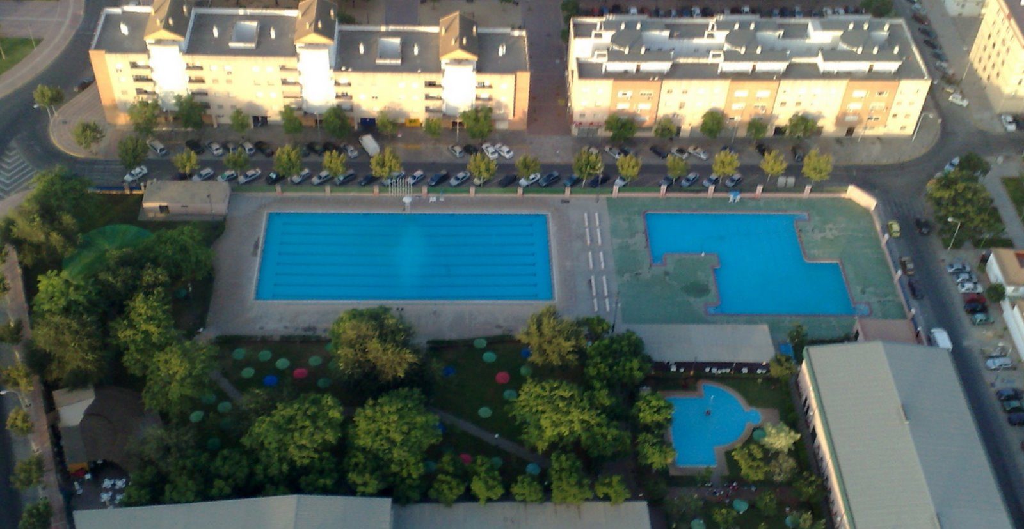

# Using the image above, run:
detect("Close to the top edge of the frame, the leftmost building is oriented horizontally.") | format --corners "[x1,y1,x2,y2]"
[91,0,530,132]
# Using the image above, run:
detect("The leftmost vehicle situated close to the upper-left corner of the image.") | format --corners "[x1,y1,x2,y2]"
[73,78,95,92]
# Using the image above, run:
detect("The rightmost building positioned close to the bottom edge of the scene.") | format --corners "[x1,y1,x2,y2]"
[796,336,1017,529]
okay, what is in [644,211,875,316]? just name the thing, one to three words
swimming pool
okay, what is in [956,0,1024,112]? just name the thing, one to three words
building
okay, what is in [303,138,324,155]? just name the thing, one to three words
car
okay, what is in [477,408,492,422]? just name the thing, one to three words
umbrella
